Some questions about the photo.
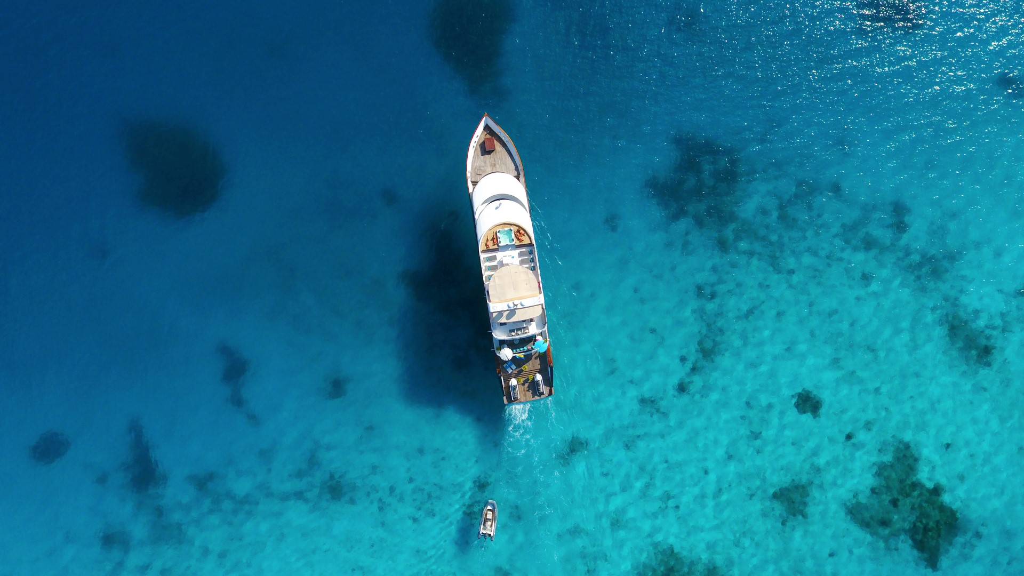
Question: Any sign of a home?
No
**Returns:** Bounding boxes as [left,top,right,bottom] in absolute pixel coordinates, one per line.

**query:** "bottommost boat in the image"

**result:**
[478,500,498,541]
